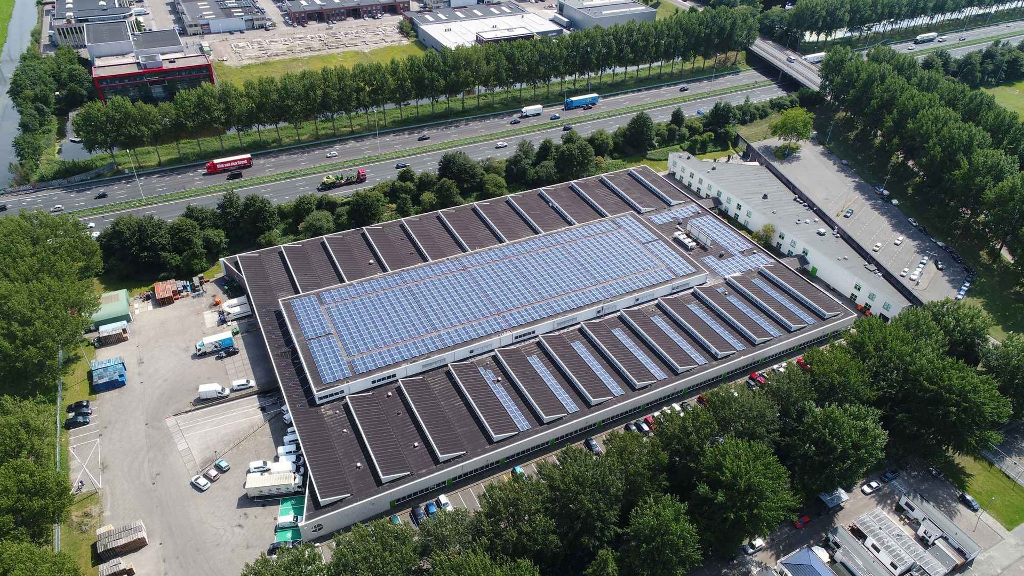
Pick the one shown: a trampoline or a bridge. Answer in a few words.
bridge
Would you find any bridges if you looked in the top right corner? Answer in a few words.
Yes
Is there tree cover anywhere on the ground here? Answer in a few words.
Yes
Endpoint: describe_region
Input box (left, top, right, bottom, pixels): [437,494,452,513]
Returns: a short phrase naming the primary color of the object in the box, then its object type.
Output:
white car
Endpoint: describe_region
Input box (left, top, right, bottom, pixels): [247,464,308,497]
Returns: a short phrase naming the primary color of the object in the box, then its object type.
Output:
white truck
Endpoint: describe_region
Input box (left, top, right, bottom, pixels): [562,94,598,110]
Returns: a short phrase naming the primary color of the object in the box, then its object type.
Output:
blue vehicle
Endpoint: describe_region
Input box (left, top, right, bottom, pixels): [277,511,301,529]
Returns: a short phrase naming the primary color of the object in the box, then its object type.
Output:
white vehicle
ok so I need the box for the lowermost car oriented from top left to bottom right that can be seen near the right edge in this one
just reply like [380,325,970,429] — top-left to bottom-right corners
[957,492,979,511]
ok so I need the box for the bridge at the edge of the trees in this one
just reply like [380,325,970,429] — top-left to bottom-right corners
[745,32,829,93]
